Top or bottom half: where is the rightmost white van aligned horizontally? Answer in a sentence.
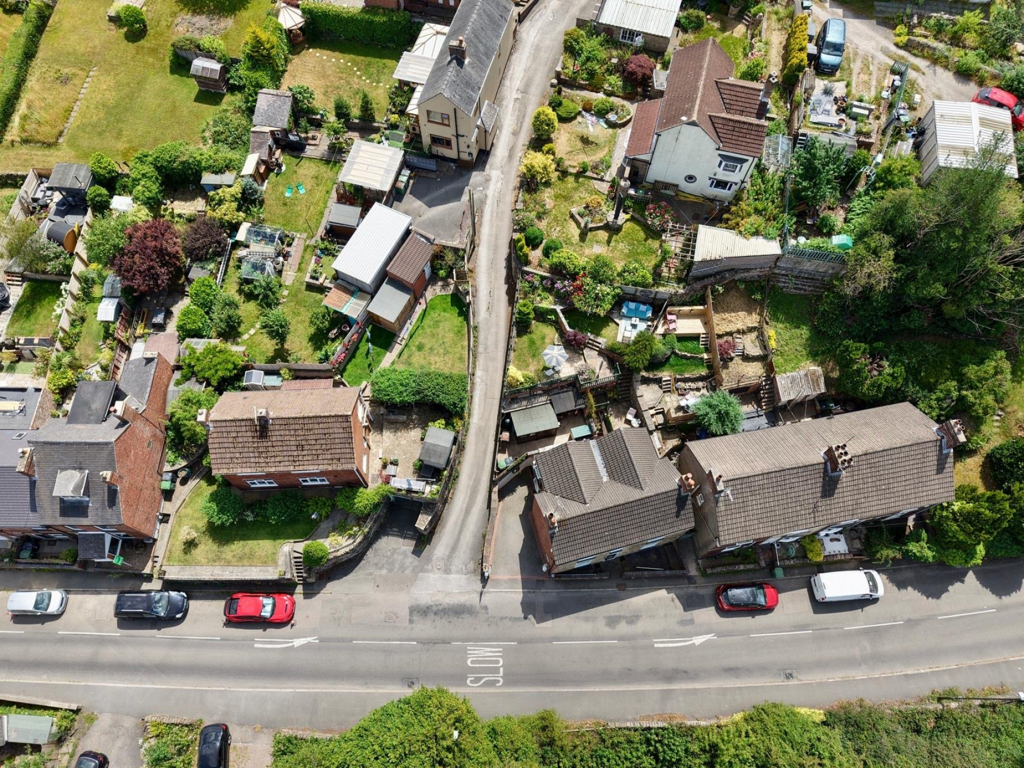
You can find the rightmost white van aligned horizontally in the bottom half.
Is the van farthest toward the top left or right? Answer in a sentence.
The van farthest toward the top sits on the right side.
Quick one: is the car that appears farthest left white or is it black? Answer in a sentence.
In this view, the car that appears farthest left is white.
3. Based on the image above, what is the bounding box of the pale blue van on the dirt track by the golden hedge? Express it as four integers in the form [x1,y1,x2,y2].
[818,21,851,76]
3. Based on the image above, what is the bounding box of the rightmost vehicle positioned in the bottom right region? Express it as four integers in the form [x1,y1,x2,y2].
[808,568,885,605]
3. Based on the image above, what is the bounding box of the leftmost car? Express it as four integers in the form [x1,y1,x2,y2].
[1,586,74,621]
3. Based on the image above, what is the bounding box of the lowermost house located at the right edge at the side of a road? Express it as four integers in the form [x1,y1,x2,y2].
[680,403,974,556]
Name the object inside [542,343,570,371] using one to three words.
umbrella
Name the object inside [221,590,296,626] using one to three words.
car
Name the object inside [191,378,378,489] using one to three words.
house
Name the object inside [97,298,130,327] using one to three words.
shed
